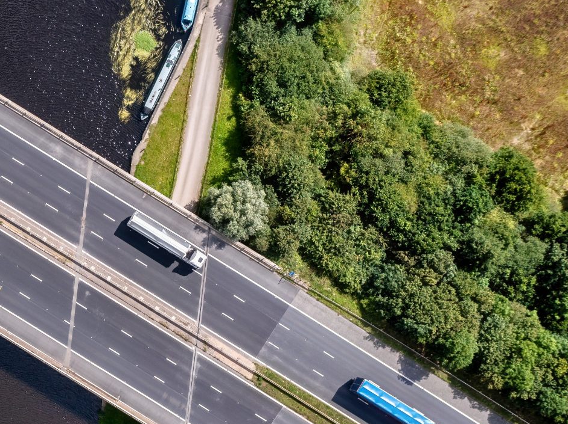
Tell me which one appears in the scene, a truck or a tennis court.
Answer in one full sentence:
The image shows a truck.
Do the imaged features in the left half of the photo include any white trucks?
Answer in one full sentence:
Yes, a white truck appears in the left half of the photo.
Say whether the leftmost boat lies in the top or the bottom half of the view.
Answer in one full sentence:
The top half of the photo is where the leftmost boat is.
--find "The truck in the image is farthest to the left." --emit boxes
[129,211,208,270]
